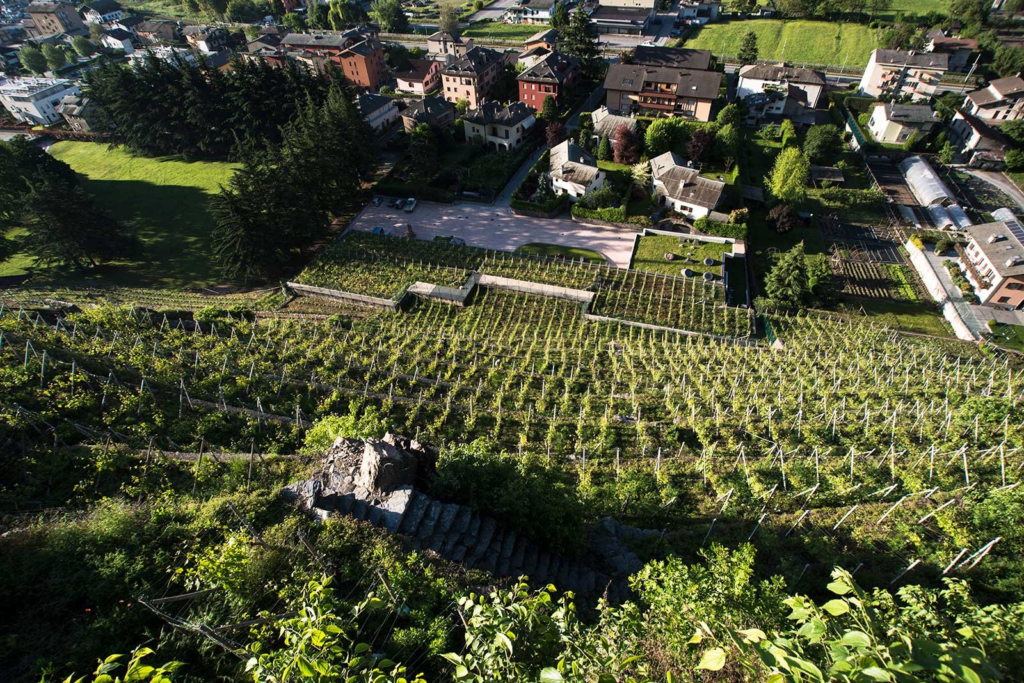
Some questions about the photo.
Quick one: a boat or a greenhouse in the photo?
greenhouse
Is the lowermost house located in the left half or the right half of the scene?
right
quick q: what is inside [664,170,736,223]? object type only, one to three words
house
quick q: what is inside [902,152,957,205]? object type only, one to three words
greenhouse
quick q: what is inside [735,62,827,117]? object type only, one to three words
house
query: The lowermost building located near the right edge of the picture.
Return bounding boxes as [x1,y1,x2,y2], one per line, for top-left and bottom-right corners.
[944,227,1024,306]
